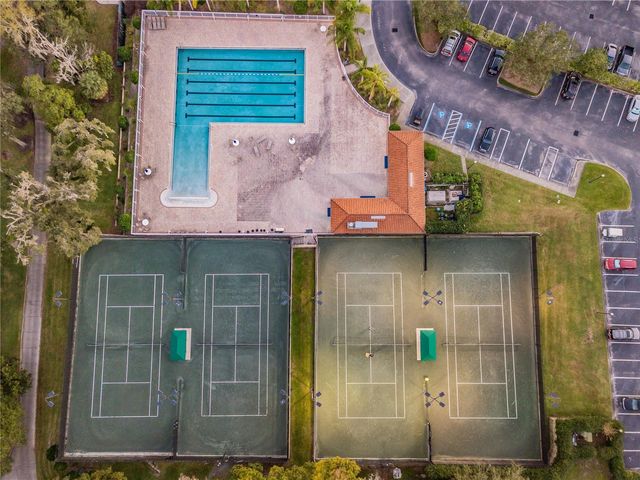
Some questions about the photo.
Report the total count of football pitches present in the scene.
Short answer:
0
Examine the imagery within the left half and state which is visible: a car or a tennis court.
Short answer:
tennis court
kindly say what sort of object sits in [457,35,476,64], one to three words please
car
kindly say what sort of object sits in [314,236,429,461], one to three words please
tennis court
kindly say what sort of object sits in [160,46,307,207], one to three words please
swimming pool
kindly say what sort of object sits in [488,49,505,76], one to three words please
car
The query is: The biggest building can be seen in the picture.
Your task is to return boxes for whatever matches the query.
[329,131,426,234]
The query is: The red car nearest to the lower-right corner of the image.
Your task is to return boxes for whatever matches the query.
[603,258,639,271]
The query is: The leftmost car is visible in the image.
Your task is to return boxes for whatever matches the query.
[409,101,426,127]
